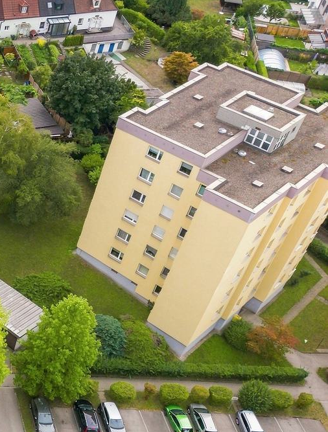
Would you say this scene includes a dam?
No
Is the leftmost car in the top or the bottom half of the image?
bottom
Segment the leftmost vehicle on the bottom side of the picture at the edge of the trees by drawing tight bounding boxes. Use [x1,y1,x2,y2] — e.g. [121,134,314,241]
[33,397,59,432]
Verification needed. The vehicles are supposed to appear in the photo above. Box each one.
[240,408,270,432]
[97,399,127,432]
[74,397,102,432]
[190,400,222,432]
[167,402,198,432]
[33,397,59,432]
